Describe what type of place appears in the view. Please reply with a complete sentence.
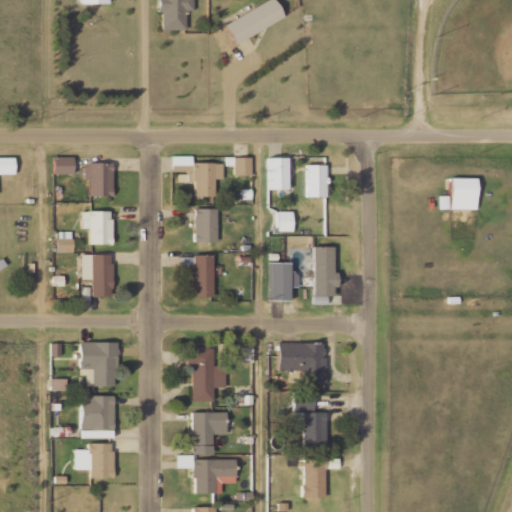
What you see here is a residential area.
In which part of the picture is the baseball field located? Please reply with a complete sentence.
Look in the top right portion of the view to spot the baseball field.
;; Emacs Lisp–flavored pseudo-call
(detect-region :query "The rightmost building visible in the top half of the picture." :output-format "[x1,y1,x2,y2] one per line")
[438,178,482,210]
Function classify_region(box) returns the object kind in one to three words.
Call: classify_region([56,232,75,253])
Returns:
shed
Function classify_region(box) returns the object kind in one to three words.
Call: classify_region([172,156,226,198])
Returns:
house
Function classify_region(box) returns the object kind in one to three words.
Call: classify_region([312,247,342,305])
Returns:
house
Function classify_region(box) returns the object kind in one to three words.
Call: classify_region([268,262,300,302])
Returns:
building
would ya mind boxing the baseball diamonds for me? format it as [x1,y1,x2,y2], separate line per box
[434,0,512,92]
